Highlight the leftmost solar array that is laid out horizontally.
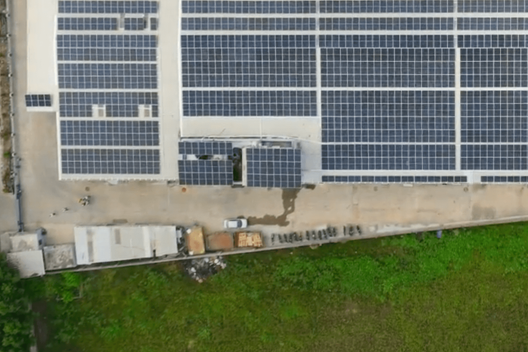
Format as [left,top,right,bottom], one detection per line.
[25,94,52,106]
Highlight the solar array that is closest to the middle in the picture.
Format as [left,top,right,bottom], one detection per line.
[247,148,301,187]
